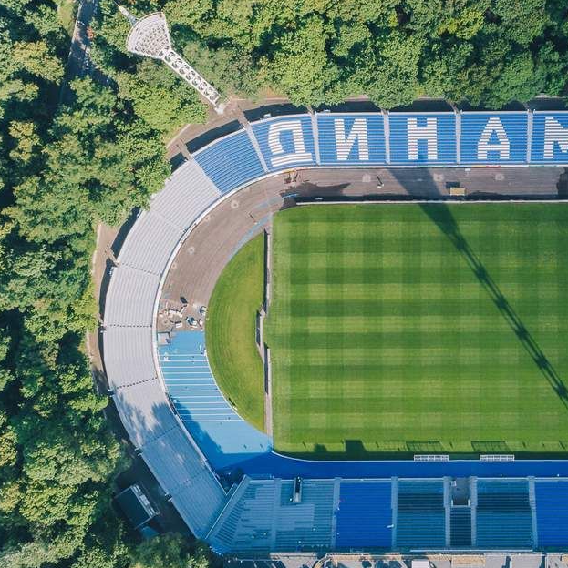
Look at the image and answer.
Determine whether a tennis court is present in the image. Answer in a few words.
No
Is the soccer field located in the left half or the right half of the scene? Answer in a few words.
right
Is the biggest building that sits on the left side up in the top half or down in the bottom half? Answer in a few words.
bottom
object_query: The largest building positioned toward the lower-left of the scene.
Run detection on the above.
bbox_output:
[110,483,164,537]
